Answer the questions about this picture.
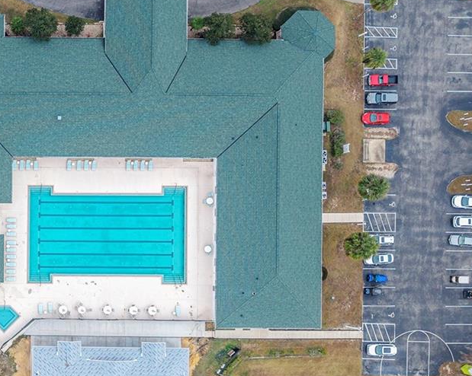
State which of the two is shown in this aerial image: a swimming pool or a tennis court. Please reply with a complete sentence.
This aerial view contains a swimming pool.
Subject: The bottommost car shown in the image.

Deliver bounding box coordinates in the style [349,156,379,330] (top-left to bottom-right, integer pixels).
[366,343,398,358]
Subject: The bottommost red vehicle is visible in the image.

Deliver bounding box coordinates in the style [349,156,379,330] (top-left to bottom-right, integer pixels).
[360,112,390,125]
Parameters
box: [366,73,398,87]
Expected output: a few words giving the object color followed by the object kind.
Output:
red vehicle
